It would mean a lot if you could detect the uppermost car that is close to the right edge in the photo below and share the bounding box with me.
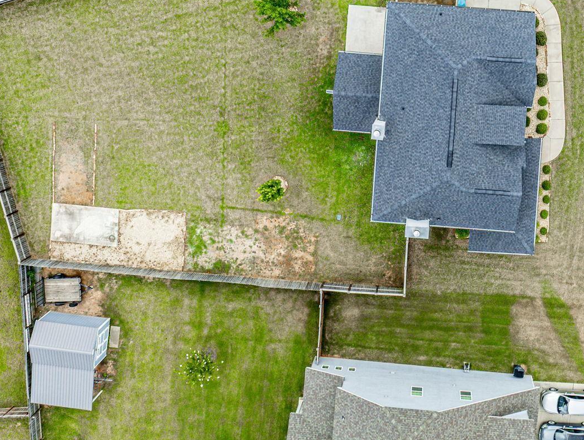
[540,388,584,421]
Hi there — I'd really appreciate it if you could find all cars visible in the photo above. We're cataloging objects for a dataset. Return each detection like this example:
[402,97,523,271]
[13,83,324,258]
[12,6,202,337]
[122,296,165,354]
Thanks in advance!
[539,421,584,440]
[540,388,584,421]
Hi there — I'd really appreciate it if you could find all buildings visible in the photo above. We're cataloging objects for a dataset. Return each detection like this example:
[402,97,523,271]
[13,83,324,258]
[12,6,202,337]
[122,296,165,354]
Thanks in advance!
[326,0,544,256]
[283,357,540,440]
[23,311,111,411]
